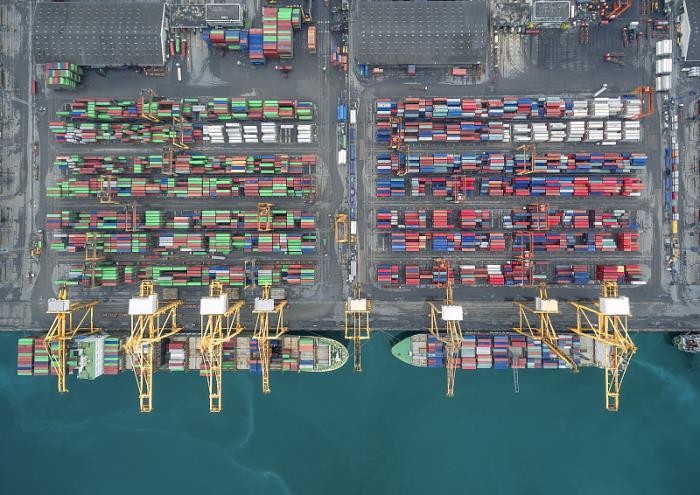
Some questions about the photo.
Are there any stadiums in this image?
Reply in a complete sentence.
No, no stadium can be seen from above.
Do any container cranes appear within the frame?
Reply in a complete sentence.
Yes, the photo shows a container crane.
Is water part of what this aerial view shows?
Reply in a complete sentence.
Yes, there is water in the image.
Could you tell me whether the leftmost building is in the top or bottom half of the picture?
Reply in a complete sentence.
The top half of the photo is where the leftmost building is.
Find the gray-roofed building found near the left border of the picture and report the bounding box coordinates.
[33,2,167,68]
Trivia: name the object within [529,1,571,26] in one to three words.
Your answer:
building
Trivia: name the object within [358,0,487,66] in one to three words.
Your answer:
building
